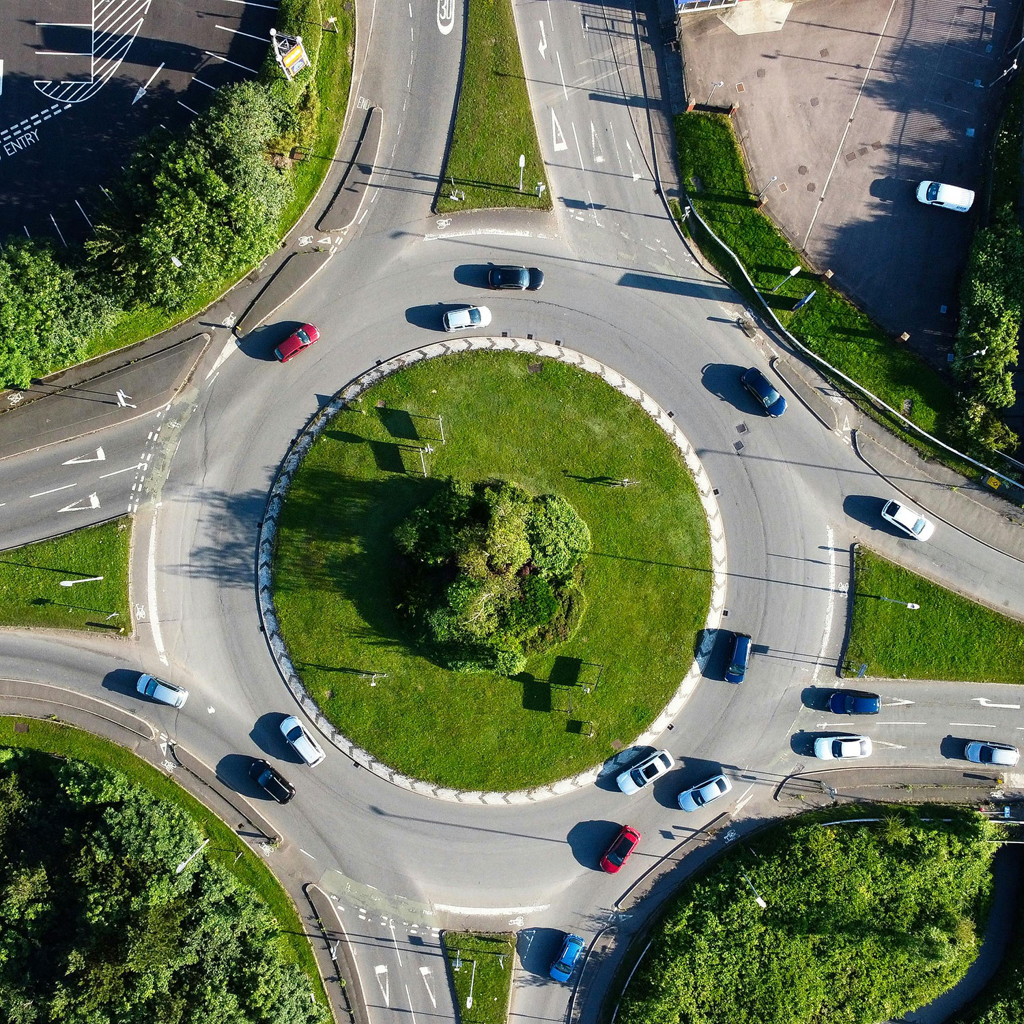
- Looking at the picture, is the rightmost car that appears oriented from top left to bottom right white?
Yes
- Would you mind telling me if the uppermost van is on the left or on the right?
right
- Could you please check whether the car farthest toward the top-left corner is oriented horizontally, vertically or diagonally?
diagonally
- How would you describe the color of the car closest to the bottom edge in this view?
blue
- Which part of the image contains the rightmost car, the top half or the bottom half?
bottom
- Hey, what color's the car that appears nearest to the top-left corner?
red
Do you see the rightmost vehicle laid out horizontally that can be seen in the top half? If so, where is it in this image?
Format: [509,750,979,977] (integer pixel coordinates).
[914,179,978,213]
